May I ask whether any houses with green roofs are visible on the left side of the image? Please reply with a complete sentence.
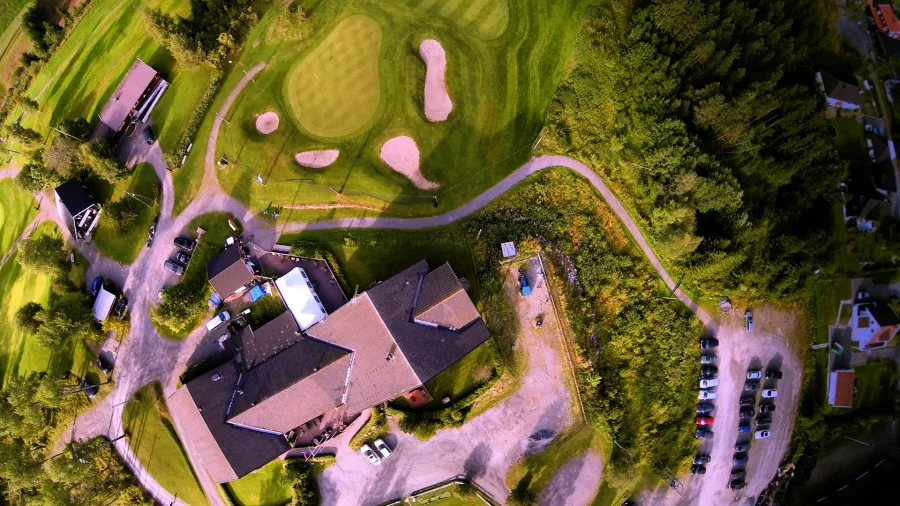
No, no house with a green roof can be made out on the left side of the image.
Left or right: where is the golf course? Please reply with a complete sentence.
You can find the golf course on the left side of the picture.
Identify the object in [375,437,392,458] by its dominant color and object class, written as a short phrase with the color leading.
white car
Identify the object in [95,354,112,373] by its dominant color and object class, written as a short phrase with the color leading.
black car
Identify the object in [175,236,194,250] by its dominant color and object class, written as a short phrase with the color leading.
black car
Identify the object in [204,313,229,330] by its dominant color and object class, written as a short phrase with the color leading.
white vehicle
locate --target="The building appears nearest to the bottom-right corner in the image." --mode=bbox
[823,369,853,408]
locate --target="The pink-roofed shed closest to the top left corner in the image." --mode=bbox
[98,57,171,127]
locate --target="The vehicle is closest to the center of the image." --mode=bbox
[517,270,532,293]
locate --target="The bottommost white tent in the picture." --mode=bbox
[274,266,330,331]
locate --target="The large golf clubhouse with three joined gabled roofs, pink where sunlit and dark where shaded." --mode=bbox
[166,260,492,482]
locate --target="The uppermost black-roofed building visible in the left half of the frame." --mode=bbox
[54,177,103,242]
